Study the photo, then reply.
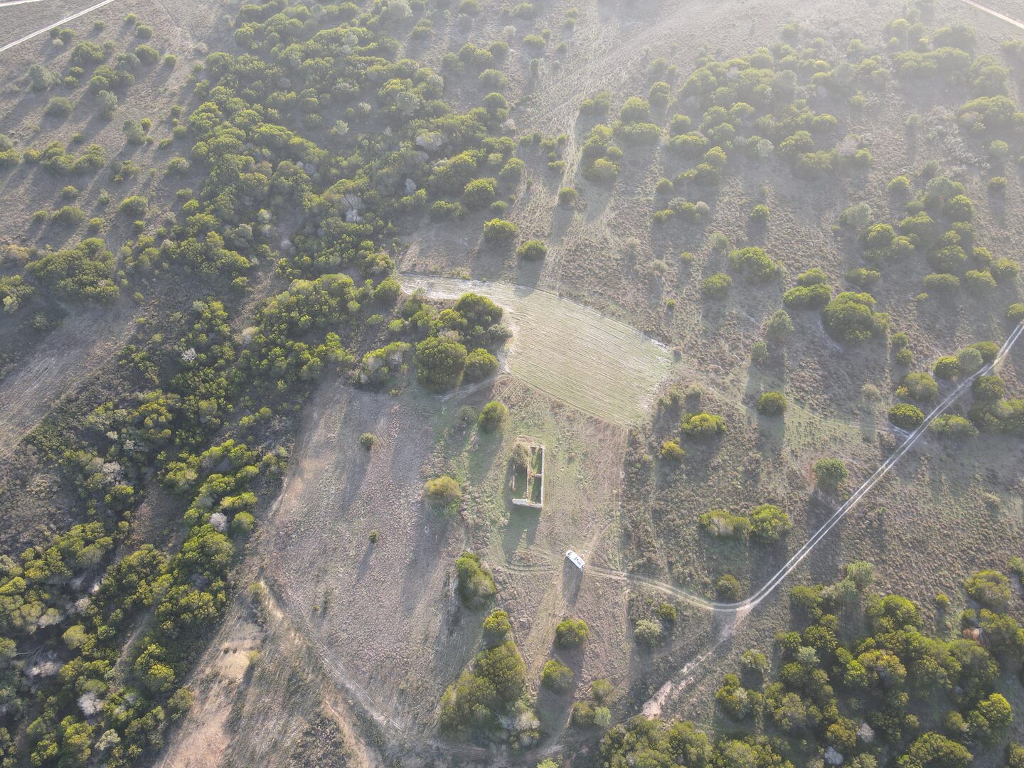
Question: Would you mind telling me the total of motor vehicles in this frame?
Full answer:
My tally gives 1 motor vehicle in this photo.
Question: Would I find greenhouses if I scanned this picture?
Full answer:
No, I can see no greenhouse in this picture.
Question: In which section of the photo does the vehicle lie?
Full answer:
The vehicle is located in the bottom region of the scene.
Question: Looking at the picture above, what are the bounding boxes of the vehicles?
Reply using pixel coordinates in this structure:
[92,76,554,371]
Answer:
[563,552,590,577]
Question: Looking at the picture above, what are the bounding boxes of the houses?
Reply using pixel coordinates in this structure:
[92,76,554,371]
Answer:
[509,440,544,506]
